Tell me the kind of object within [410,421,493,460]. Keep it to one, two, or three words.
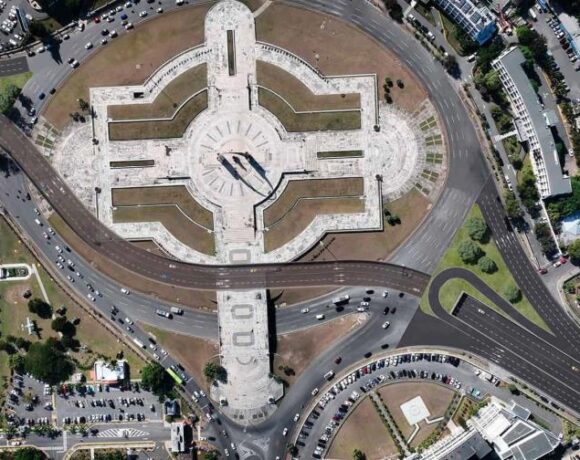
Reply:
building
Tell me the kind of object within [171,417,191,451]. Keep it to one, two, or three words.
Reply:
building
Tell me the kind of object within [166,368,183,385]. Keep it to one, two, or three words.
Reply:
vehicle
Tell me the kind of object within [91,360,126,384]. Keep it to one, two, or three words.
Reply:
house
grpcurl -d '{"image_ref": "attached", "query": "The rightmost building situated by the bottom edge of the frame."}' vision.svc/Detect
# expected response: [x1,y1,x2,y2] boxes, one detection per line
[466,394,560,460]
